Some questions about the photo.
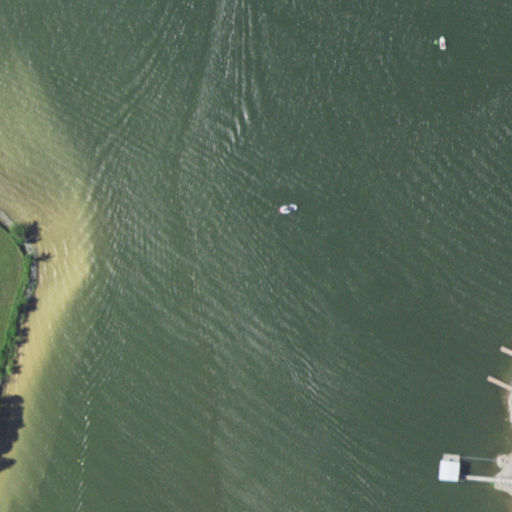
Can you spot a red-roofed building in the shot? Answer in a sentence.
No, no red-roofed building is visible in the scene.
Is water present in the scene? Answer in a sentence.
Yes, water shows up in the scene.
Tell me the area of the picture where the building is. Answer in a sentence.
The building appears toward the bottom right of the photo.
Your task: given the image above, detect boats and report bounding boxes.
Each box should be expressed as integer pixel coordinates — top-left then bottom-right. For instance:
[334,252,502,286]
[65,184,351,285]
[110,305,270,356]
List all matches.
[280,204,298,213]
[440,36,446,51]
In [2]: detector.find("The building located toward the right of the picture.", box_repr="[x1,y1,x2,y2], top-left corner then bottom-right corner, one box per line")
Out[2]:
[439,454,463,484]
